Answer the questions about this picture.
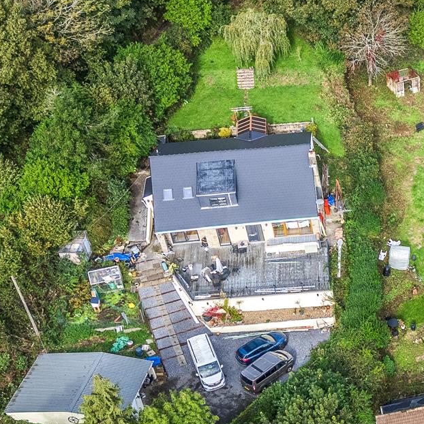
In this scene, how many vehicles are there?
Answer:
3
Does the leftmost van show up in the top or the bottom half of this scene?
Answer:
bottom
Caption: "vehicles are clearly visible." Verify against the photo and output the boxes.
[238,349,296,391]
[185,334,222,385]
[234,329,287,364]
